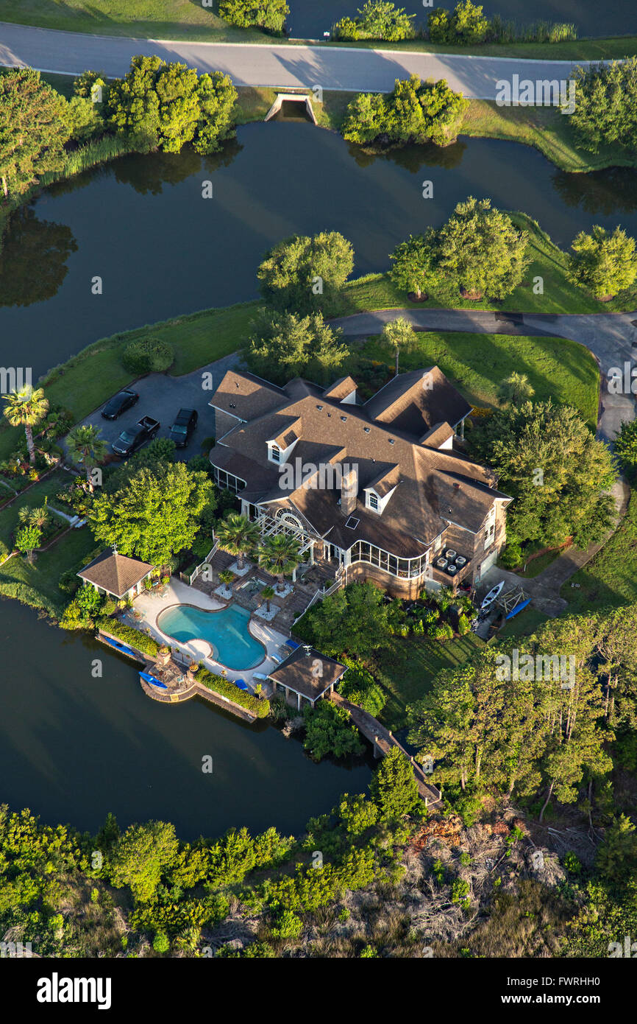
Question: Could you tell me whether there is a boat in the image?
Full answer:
Yes, I can see a boat in this picture.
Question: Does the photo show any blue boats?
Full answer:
Yes, a blue boat can be made out from above.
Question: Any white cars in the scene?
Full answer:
No, the frame has no white car in it.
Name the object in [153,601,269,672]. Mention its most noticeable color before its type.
blue swimming pool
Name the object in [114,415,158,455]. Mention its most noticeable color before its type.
black vehicle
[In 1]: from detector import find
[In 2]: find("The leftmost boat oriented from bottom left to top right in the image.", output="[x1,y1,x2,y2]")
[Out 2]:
[482,579,505,607]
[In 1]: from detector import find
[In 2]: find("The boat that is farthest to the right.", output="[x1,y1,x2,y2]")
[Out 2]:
[506,597,532,619]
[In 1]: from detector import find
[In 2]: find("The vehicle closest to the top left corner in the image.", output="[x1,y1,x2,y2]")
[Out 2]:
[101,389,138,420]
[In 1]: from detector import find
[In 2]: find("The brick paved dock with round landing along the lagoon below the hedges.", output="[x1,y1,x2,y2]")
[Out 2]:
[98,625,262,724]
